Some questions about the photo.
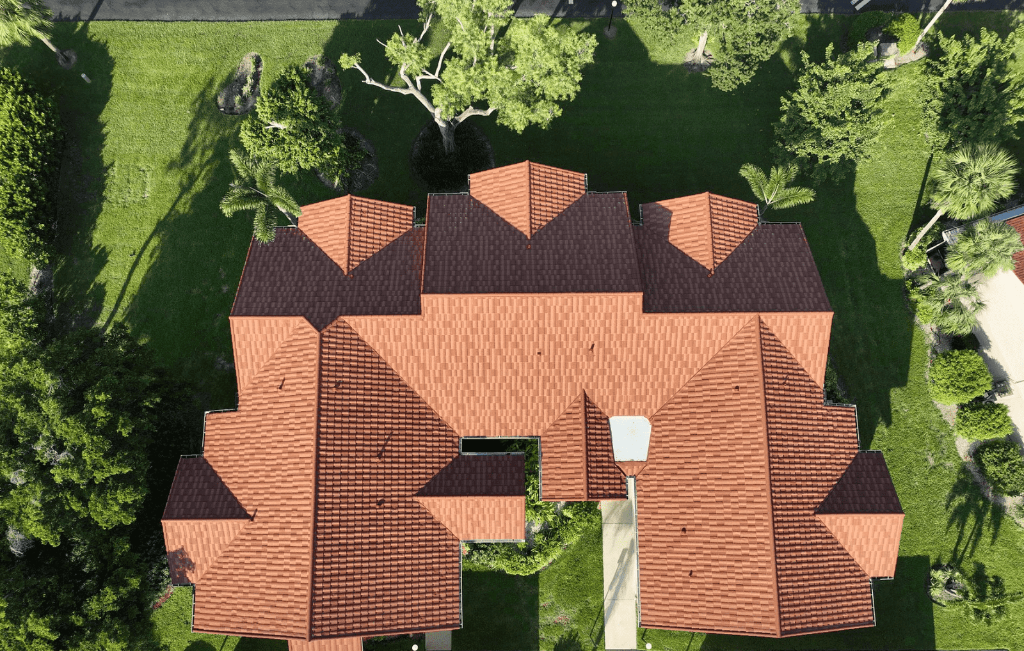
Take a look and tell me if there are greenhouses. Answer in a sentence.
No, the scene contains no greenhouse.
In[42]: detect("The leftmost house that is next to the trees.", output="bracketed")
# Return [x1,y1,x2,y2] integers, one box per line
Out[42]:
[161,160,906,651]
